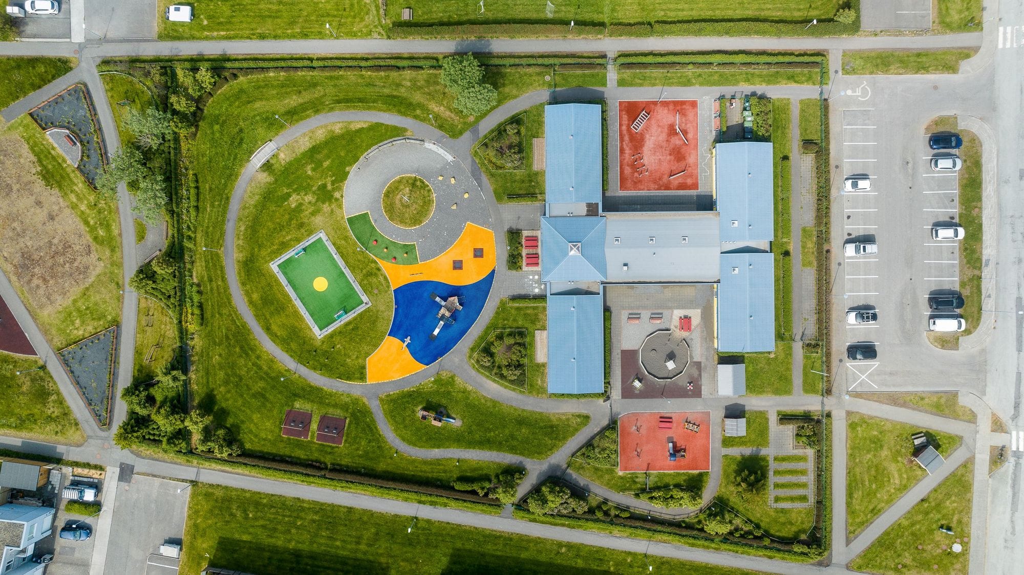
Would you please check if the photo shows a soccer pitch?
Yes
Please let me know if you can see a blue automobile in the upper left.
No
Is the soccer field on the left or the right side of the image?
left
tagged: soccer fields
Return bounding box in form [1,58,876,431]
[270,230,370,338]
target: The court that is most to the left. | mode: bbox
[0,296,37,356]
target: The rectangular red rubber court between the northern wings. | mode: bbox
[619,99,699,192]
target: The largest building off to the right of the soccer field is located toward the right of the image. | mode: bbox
[541,103,775,394]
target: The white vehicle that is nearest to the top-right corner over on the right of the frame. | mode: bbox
[930,156,961,171]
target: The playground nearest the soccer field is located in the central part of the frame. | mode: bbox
[336,136,497,383]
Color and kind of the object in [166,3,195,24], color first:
white vehicle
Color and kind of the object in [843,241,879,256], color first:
white car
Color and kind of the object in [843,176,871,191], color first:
white car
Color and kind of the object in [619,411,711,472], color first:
red sports court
